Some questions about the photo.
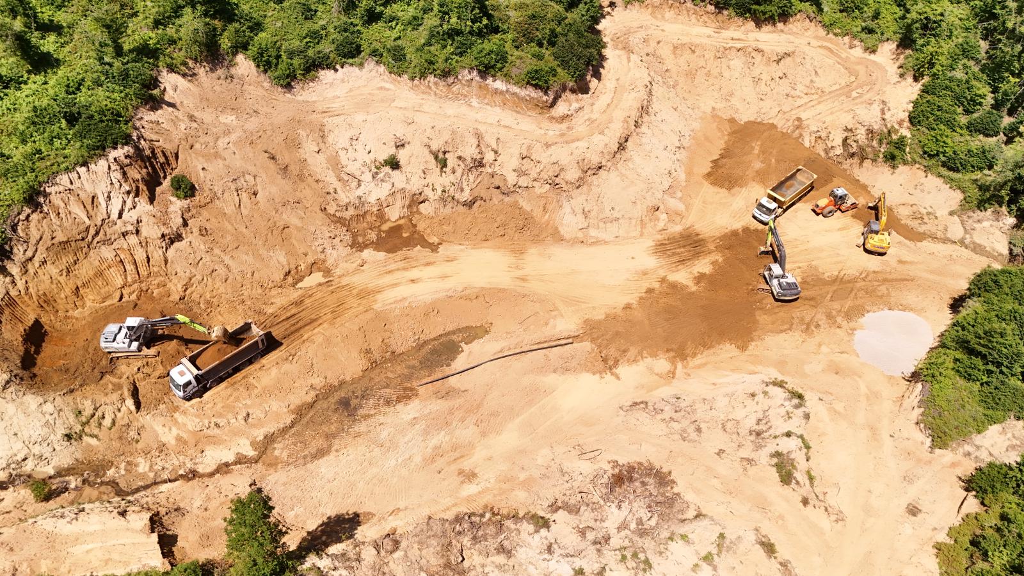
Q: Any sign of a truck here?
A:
Yes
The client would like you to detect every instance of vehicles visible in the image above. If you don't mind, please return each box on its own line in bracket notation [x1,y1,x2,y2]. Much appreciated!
[758,220,803,300]
[163,317,273,408]
[751,170,817,227]
[852,192,889,258]
[101,313,231,364]
[813,189,859,223]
